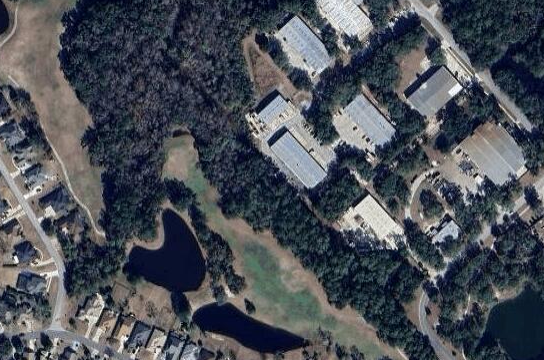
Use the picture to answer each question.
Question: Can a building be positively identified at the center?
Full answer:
Yes, at the center there is a building.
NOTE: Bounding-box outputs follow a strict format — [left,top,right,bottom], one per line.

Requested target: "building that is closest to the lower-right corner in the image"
[430,220,459,247]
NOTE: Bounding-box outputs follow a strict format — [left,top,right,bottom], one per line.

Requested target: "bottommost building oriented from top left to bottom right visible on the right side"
[354,194,404,247]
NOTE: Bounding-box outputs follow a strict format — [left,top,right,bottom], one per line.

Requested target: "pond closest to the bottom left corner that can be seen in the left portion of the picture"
[120,206,208,295]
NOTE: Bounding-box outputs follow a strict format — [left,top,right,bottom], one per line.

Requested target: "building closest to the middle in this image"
[271,130,326,189]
